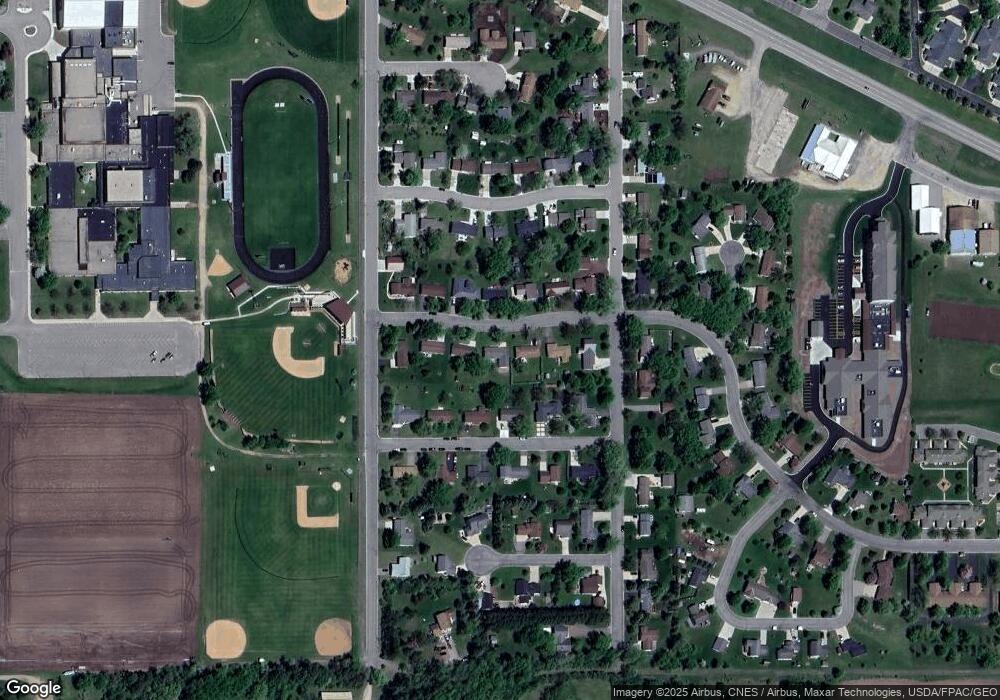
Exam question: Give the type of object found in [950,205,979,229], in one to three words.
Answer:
shed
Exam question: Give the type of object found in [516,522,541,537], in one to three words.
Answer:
house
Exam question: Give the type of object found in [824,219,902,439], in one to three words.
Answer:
building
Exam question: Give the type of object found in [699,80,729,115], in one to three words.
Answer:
barn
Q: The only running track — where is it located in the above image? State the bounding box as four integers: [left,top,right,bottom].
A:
[230,65,331,284]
